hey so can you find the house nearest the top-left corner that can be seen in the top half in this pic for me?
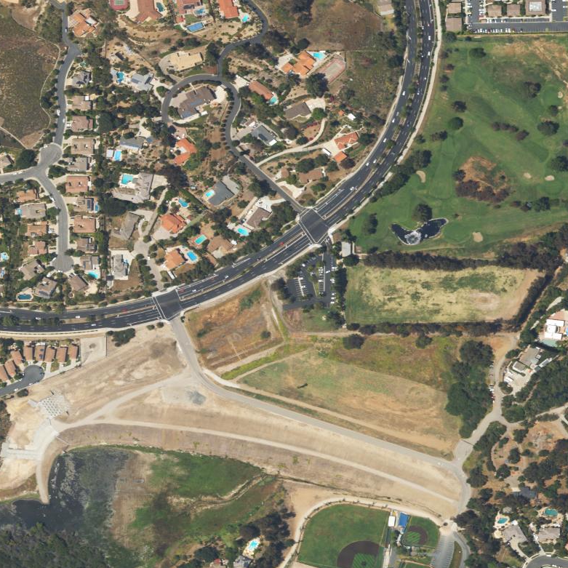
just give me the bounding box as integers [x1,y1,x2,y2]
[68,8,94,37]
